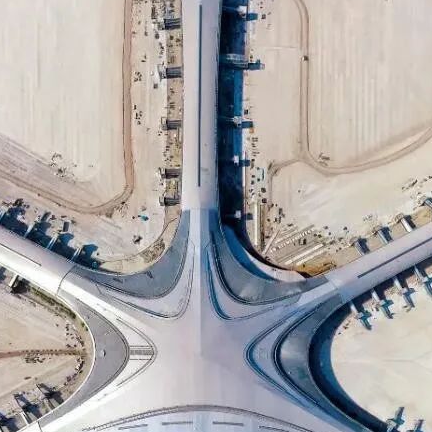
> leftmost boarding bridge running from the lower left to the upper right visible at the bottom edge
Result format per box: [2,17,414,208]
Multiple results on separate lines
[384,405,404,432]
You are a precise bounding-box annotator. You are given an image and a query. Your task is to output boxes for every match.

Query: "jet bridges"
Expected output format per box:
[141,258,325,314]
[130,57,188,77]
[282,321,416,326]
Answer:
[45,223,68,251]
[162,169,183,182]
[217,155,250,165]
[21,212,50,239]
[219,210,253,219]
[217,117,254,127]
[162,120,183,134]
[13,392,32,426]
[220,6,258,21]
[0,199,21,224]
[10,275,22,288]
[394,213,413,231]
[414,266,432,296]
[68,245,84,263]
[162,19,183,36]
[402,417,423,432]
[349,300,372,329]
[373,226,389,242]
[370,288,392,319]
[162,196,182,208]
[384,405,404,432]
[392,277,415,308]
[217,59,266,71]
[36,382,54,413]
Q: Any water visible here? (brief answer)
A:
No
